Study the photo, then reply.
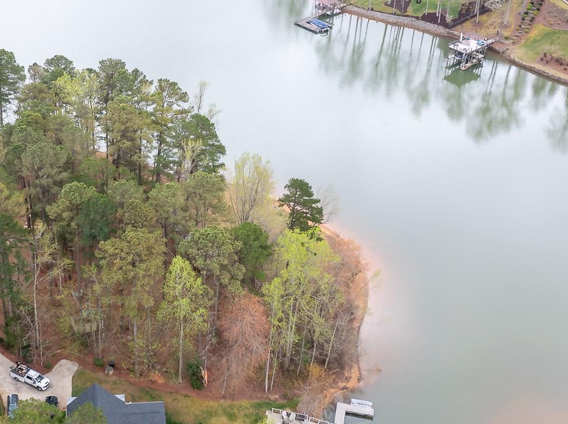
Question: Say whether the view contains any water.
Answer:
Yes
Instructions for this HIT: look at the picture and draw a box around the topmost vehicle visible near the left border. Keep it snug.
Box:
[6,355,54,386]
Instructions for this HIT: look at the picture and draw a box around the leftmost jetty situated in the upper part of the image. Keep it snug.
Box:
[295,0,347,35]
